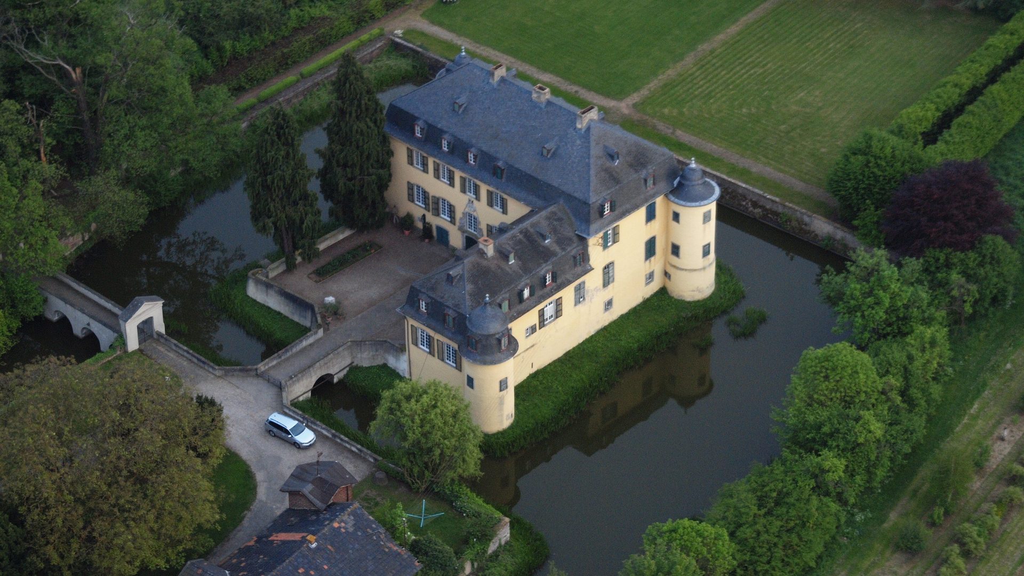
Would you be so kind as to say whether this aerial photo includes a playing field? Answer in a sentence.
No, the scene contains no playing field.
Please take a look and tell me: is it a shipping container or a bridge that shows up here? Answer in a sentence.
Visible in the photo is a bridge.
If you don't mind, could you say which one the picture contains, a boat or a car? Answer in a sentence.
There is a car in the scene.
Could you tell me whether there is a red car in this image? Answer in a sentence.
No, no red car can be seen from above.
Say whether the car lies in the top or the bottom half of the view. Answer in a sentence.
It is in the bottom half that the car appears.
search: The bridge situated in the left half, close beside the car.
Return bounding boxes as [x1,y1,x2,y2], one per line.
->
[255,330,410,402]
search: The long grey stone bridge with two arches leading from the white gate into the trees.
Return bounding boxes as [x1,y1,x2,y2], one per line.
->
[27,258,145,363]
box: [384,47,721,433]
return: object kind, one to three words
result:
house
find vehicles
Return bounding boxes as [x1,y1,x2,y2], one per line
[262,410,317,449]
